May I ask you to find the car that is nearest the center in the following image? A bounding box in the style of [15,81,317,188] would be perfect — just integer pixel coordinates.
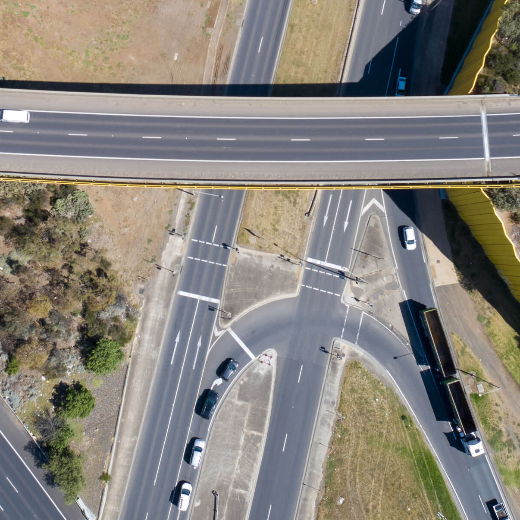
[220,358,239,383]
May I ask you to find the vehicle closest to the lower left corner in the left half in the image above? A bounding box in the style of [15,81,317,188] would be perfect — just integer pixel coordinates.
[177,480,192,515]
